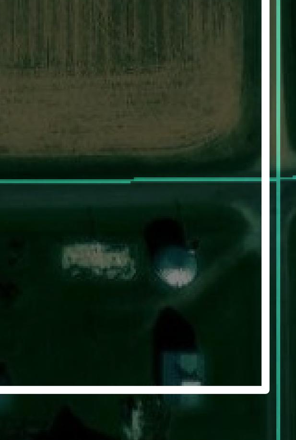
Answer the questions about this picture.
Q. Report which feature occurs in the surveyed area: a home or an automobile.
home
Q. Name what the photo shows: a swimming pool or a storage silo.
storage silo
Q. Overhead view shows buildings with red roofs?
No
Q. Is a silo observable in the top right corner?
No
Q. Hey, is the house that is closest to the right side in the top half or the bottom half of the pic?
bottom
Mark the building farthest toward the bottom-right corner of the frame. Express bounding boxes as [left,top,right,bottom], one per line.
[159,350,208,414]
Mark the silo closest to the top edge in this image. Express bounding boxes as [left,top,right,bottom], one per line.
[152,245,195,289]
